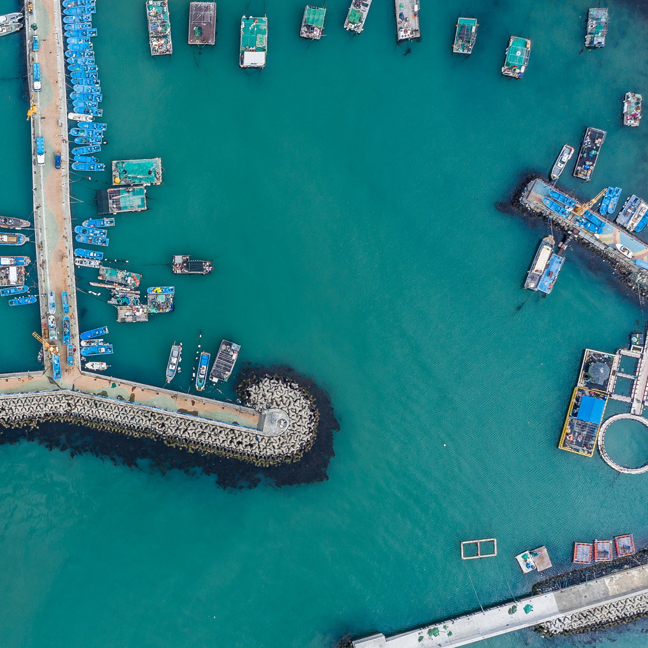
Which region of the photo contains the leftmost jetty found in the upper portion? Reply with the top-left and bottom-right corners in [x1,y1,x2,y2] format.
[25,0,80,395]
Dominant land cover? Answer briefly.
water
